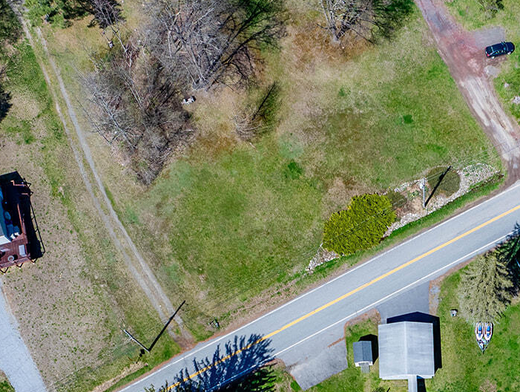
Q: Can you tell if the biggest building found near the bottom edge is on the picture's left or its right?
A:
right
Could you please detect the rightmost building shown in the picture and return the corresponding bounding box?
[378,321,434,379]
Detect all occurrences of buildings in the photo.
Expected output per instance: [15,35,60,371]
[0,182,32,267]
[353,340,373,371]
[378,321,434,379]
